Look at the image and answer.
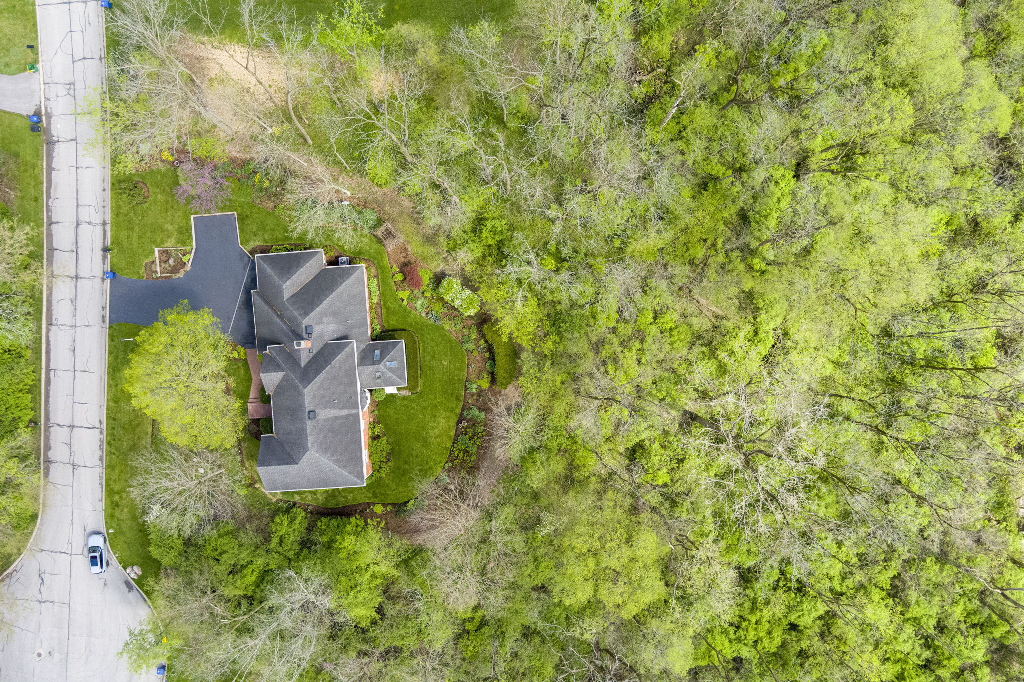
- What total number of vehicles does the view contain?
one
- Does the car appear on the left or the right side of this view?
left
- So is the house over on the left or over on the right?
left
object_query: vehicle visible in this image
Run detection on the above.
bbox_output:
[83,533,108,575]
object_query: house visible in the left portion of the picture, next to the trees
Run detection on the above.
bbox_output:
[251,249,409,492]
